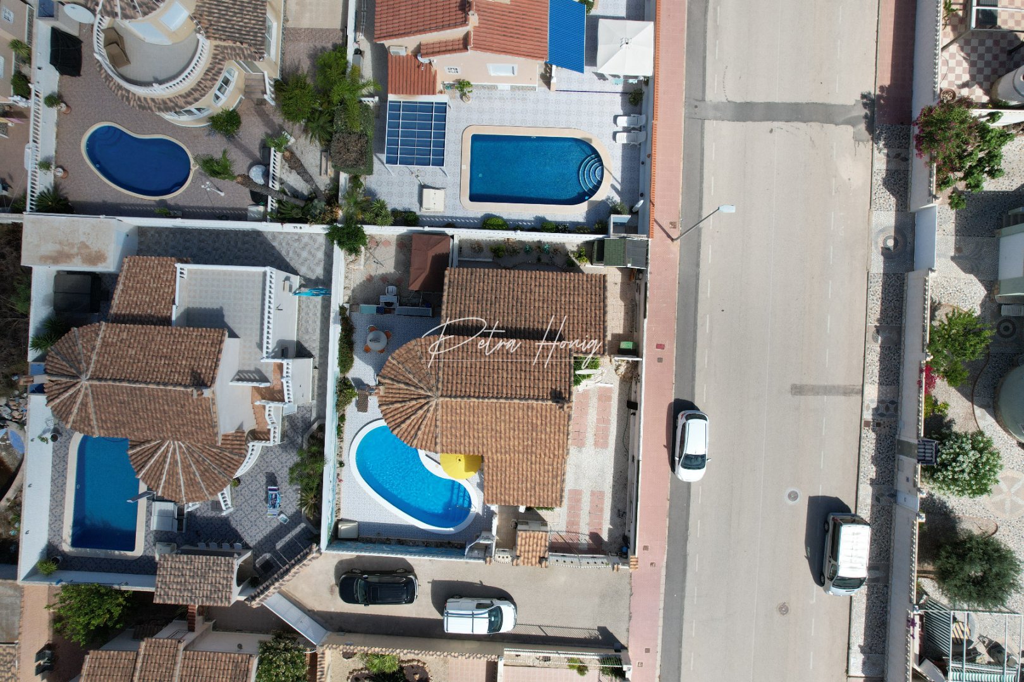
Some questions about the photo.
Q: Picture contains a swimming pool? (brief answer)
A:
Yes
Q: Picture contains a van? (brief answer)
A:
Yes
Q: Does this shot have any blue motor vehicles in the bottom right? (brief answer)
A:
No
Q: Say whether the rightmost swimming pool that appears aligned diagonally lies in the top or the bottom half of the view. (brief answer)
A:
bottom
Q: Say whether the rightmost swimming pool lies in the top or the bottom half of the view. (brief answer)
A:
top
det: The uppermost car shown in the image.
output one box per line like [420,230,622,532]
[671,410,711,482]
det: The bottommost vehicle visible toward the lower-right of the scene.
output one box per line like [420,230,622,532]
[824,514,871,593]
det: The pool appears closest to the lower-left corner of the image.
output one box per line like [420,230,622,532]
[63,431,143,558]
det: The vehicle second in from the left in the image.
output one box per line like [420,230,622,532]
[443,594,518,637]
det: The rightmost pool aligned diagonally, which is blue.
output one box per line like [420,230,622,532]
[349,418,480,536]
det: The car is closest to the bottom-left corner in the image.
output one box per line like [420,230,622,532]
[339,567,418,610]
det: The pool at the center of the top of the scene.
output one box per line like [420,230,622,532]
[462,128,612,211]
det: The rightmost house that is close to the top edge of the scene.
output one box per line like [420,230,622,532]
[373,0,551,103]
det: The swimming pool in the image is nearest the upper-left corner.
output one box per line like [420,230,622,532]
[83,120,193,198]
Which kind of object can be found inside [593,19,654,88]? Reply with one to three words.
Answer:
gazebo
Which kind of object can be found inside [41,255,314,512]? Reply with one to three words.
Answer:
house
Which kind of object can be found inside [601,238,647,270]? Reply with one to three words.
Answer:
shed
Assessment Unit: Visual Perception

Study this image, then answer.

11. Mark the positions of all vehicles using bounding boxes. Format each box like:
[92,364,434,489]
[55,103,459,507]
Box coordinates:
[443,594,518,637]
[339,567,418,610]
[671,410,711,482]
[824,514,871,593]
